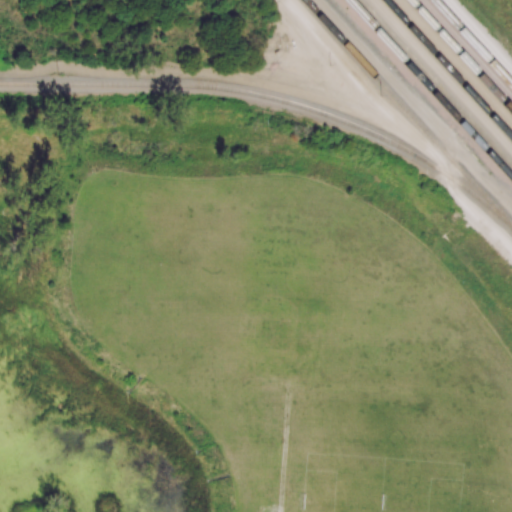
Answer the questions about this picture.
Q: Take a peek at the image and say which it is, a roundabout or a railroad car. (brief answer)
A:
railroad car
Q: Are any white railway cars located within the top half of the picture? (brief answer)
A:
Yes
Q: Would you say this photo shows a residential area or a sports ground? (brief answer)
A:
sports ground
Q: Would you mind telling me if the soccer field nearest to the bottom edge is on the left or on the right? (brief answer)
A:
right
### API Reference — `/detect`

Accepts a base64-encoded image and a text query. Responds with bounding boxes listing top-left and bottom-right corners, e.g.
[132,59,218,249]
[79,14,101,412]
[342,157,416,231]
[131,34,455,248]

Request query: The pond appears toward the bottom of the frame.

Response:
[0,342,186,512]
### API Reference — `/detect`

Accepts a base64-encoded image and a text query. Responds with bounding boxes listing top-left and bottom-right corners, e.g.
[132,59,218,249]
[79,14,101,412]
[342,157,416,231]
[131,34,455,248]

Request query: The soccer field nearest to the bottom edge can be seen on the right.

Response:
[303,454,464,512]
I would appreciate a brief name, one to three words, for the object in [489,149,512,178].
rail car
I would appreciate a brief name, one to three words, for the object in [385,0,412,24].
rail car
